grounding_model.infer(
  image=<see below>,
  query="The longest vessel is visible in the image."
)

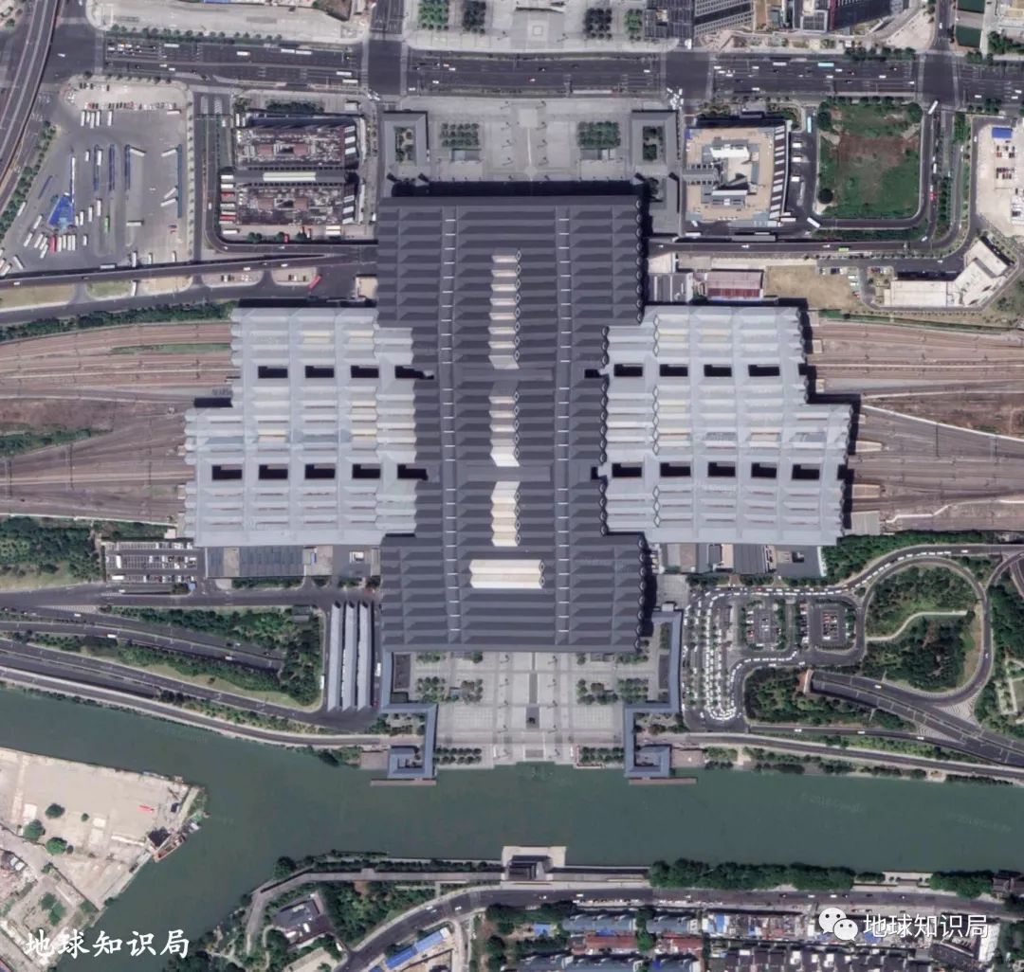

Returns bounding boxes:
[154,831,187,863]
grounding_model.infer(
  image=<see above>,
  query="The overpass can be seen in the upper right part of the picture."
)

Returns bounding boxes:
[648,239,908,254]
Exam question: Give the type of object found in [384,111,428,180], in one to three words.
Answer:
building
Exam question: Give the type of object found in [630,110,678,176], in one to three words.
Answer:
building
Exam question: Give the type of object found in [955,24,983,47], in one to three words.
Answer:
sports court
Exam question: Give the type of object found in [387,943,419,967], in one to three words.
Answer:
shed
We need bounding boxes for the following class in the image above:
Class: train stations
[177,196,882,652]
